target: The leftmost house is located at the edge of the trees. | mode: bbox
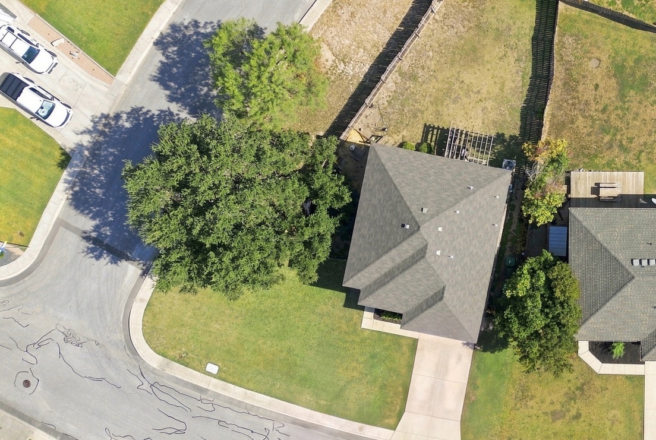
[343,141,512,344]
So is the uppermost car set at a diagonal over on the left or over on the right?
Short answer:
left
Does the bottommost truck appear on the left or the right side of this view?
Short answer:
left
